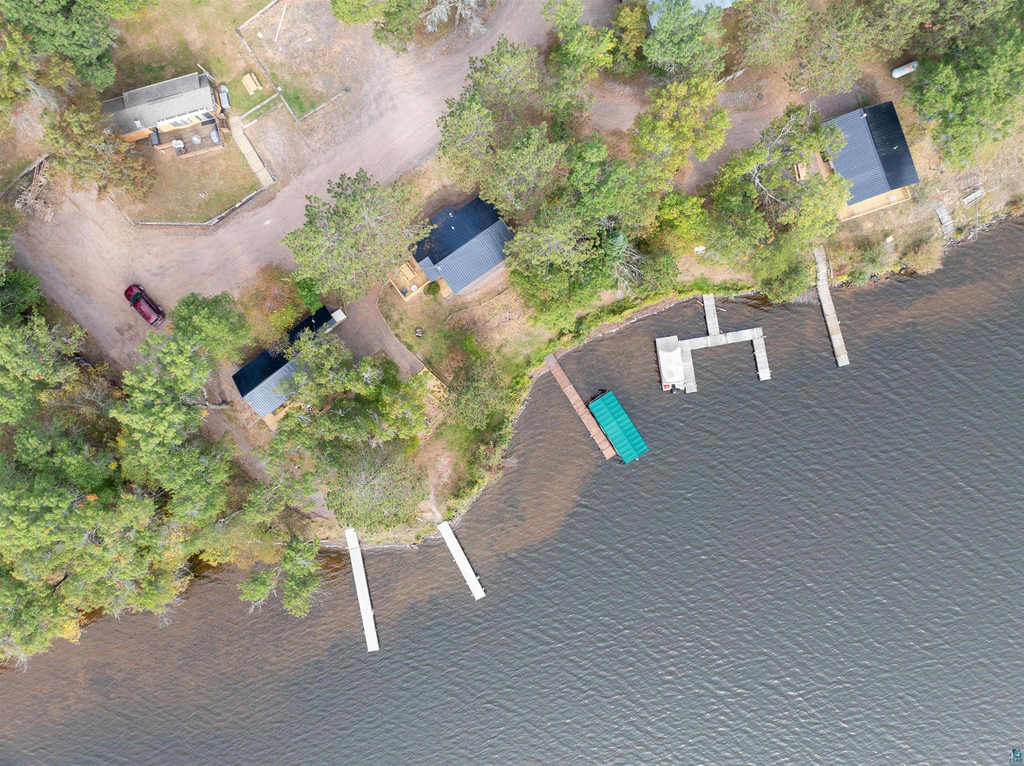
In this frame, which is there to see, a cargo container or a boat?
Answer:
boat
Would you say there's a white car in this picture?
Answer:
No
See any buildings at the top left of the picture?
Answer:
Yes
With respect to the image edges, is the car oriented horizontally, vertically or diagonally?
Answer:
diagonally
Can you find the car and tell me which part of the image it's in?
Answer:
left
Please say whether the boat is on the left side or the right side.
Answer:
right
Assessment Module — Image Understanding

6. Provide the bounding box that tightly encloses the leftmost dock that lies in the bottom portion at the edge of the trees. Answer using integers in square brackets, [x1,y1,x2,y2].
[346,537,381,654]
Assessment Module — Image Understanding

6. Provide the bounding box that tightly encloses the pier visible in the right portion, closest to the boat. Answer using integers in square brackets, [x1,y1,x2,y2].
[679,294,772,394]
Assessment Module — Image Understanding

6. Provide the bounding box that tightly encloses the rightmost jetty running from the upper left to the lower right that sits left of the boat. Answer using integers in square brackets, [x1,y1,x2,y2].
[545,354,617,460]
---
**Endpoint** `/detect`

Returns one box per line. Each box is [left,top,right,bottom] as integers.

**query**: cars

[127,281,168,328]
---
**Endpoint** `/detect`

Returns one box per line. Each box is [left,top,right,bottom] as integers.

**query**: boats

[655,335,684,393]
